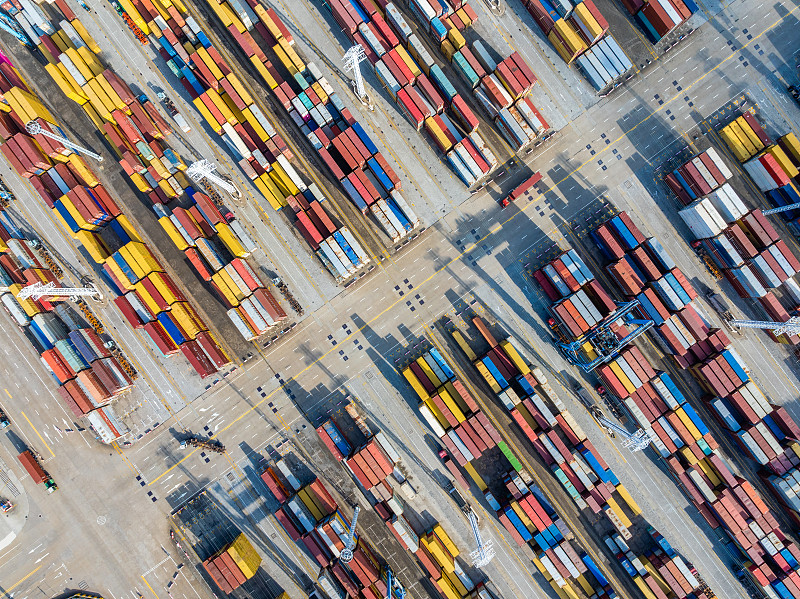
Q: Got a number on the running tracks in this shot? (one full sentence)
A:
I count no running tracks.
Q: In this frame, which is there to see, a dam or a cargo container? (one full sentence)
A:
I can see a cargo container in this picture.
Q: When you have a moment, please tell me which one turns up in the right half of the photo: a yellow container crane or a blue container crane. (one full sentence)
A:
There is a blue container crane in the right half of the photo.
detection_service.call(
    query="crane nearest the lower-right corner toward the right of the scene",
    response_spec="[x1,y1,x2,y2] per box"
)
[555,298,658,372]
